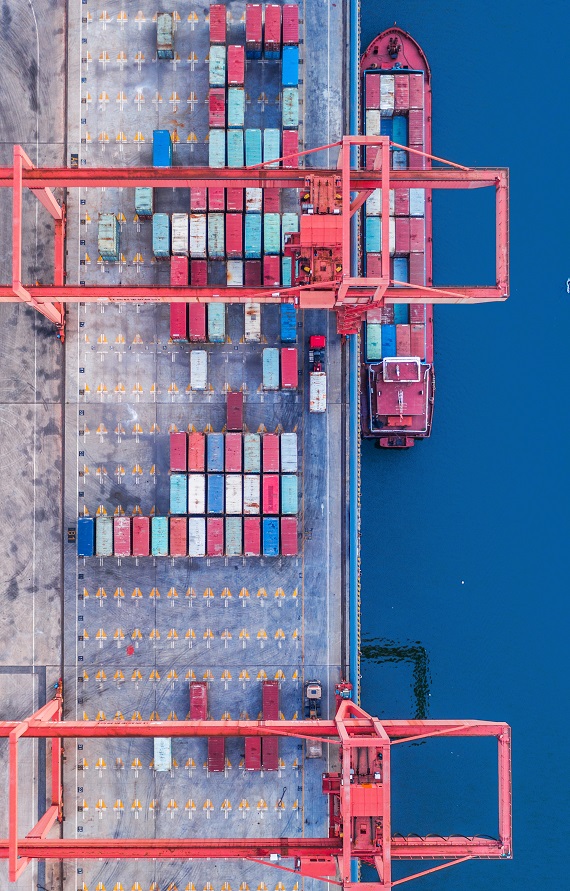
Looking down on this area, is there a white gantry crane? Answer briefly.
No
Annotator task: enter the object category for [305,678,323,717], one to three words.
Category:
vehicle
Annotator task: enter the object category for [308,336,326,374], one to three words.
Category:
vehicle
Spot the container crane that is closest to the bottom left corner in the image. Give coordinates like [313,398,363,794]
[0,669,513,889]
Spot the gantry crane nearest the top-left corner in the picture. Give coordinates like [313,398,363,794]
[0,141,510,350]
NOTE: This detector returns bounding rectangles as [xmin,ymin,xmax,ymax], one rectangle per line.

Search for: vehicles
[305,678,323,717]
[308,336,326,374]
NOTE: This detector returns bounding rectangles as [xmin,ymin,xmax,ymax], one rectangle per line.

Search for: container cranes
[0,669,513,889]
[0,141,510,350]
